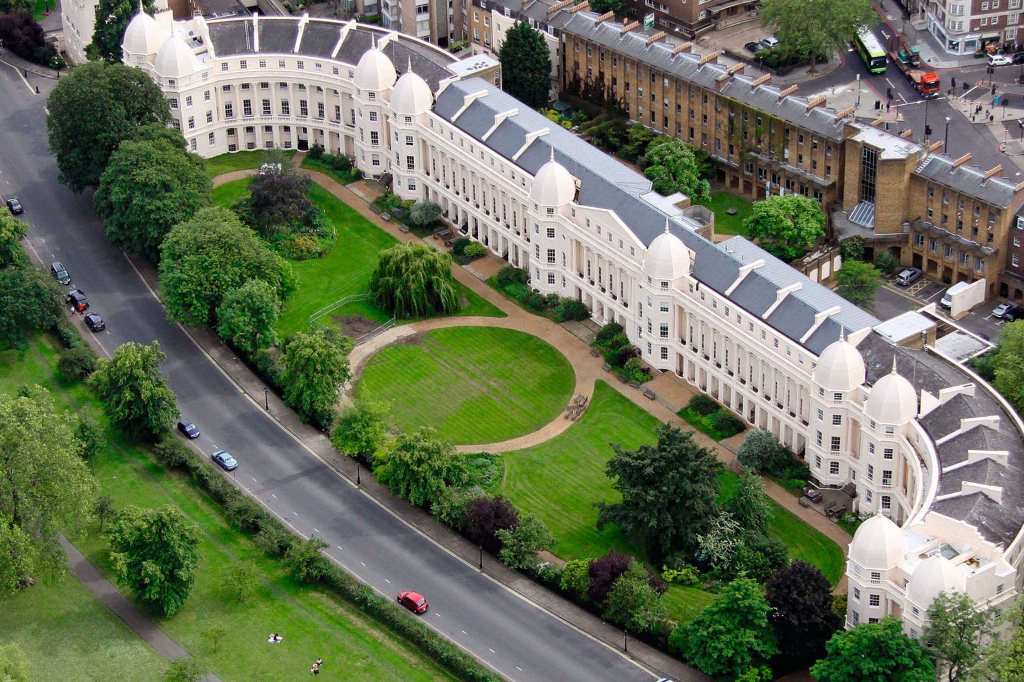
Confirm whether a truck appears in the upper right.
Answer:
Yes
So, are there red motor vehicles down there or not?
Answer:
Yes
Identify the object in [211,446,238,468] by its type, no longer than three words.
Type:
car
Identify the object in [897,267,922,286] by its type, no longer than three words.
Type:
car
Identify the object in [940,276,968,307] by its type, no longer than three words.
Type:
van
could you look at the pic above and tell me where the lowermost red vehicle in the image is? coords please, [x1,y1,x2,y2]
[397,588,430,611]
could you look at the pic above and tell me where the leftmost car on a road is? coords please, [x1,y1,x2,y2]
[6,197,23,213]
